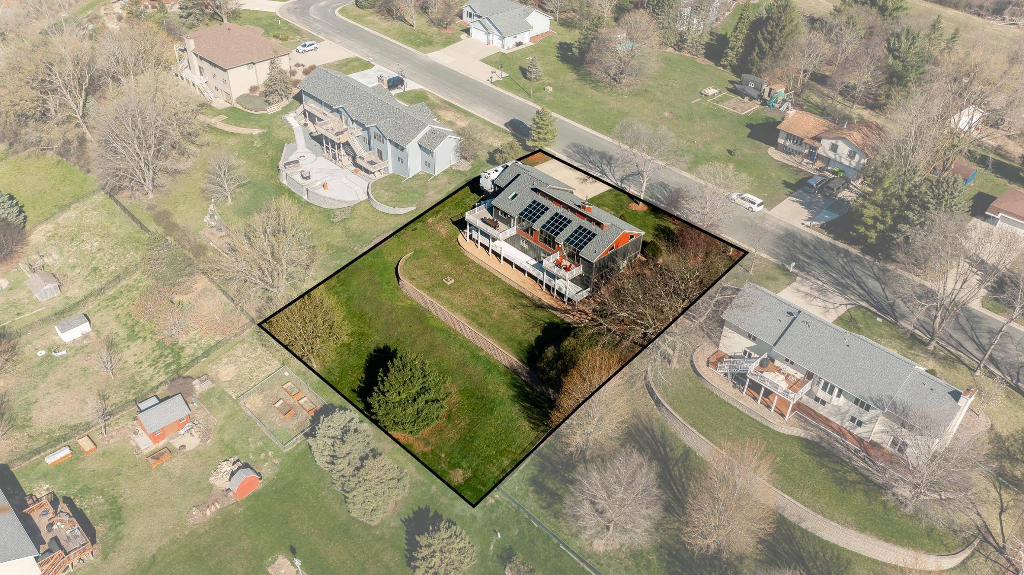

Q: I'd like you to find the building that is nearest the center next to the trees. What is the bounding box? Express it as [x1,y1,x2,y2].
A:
[488,163,643,287]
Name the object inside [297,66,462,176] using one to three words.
house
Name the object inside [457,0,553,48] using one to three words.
house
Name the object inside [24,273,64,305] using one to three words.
shed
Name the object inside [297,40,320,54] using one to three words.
car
